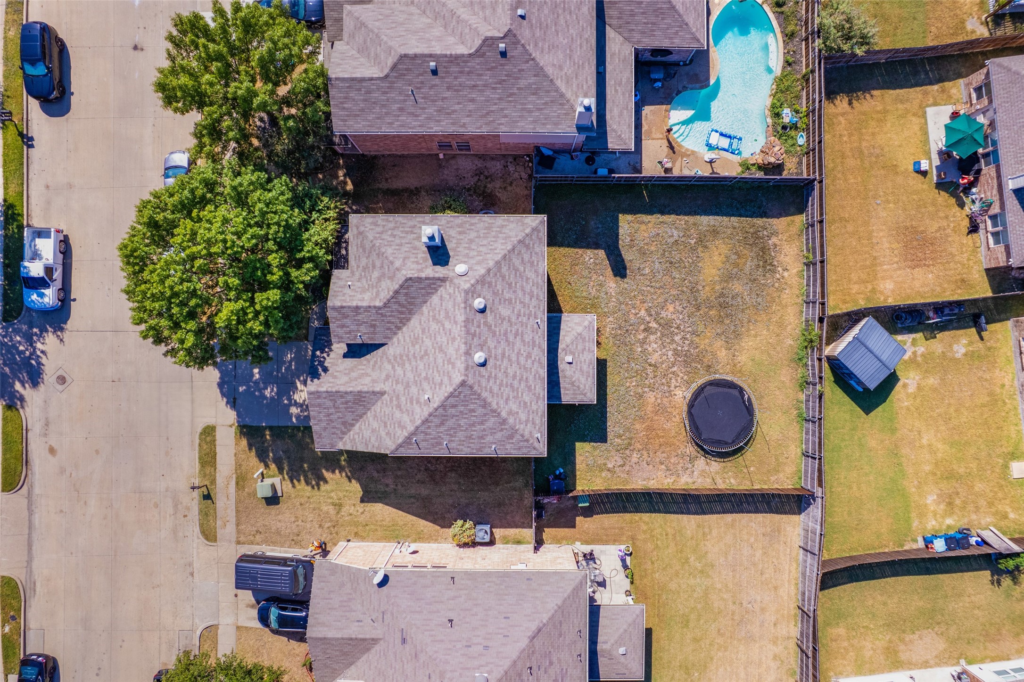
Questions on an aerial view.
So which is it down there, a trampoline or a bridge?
trampoline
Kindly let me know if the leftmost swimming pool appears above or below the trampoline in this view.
above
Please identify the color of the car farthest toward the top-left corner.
blue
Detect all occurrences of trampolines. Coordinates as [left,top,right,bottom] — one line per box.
[683,377,765,451]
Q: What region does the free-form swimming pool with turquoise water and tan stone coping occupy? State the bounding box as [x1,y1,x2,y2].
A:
[663,0,783,162]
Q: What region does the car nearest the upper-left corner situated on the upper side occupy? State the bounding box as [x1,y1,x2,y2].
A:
[18,22,65,100]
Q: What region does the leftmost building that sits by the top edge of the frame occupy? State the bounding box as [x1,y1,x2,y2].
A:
[319,0,708,161]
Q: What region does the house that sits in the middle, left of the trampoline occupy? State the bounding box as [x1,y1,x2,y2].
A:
[306,213,598,458]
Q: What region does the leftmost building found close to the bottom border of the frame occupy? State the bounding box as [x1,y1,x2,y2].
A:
[306,536,647,682]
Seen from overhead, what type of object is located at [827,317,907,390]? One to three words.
shed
